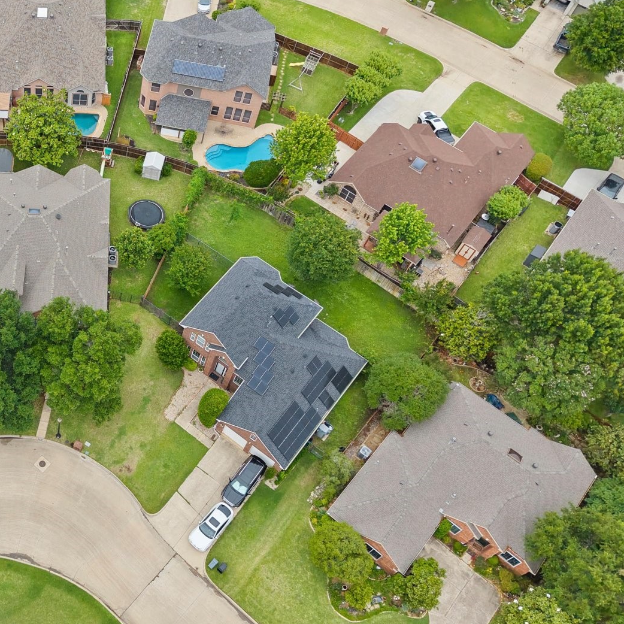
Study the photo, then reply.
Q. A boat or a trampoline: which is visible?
trampoline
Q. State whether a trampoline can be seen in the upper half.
Yes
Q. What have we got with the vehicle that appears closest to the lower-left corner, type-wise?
automobile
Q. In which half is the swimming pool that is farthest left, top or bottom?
top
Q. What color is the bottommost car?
white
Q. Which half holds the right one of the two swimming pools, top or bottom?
top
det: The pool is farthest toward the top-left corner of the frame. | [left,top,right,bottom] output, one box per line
[73,110,102,134]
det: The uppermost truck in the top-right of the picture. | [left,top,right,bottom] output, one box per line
[552,17,580,52]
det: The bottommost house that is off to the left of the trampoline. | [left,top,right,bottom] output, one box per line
[0,150,110,326]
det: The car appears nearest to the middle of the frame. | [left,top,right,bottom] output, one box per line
[220,453,271,507]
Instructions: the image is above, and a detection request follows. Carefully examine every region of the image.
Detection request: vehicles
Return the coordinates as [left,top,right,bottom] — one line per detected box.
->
[552,17,580,52]
[598,171,624,201]
[196,0,214,16]
[188,499,240,556]
[413,110,460,145]
[220,453,271,507]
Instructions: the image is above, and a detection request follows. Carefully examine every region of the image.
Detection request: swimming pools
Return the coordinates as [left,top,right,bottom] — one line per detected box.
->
[204,132,281,172]
[73,110,102,134]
